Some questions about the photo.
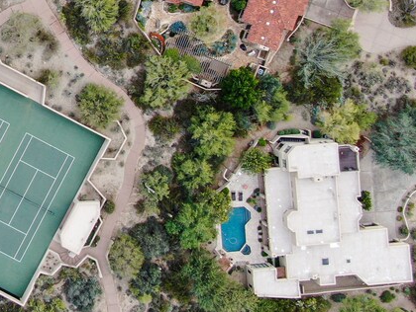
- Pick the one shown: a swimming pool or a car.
swimming pool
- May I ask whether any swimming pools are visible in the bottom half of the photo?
Yes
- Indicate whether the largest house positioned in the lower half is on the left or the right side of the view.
right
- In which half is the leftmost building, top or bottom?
bottom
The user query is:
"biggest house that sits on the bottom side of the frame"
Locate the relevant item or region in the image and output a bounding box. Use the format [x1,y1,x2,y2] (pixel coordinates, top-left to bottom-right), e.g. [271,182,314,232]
[238,136,412,297]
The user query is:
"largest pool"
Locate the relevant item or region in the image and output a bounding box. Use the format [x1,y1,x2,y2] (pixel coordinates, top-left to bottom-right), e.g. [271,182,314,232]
[219,205,252,253]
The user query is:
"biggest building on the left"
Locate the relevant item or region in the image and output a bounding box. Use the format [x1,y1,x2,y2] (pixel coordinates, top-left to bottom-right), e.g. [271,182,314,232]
[58,198,99,254]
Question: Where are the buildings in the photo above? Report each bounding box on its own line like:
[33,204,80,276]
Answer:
[238,136,412,297]
[236,0,309,51]
[58,198,99,254]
